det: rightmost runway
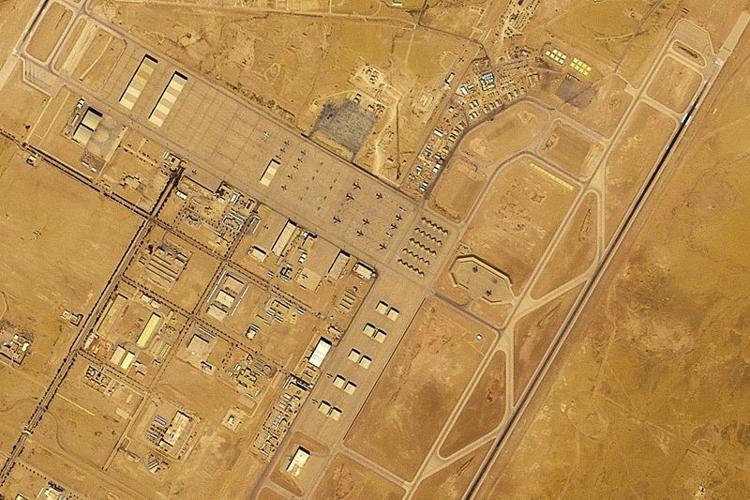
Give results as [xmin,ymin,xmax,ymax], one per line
[462,54,726,500]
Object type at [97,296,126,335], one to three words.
building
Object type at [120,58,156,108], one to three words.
hangar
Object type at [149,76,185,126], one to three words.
hangar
